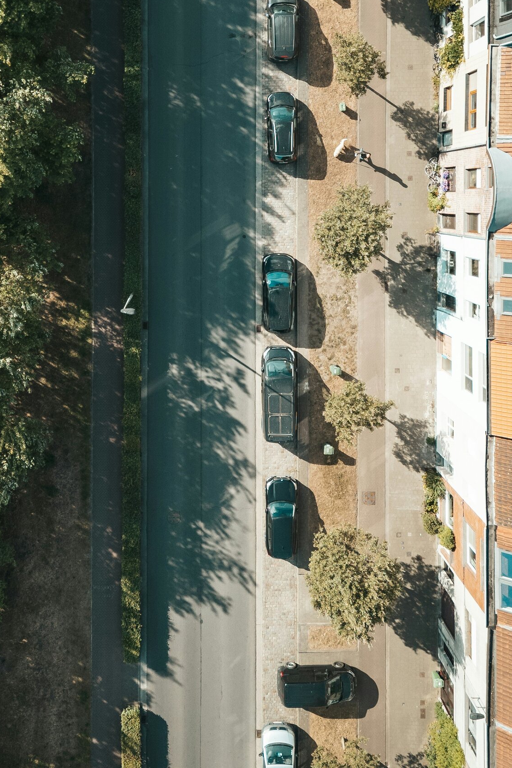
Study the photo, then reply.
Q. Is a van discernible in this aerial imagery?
Yes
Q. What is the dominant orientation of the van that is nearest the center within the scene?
up and down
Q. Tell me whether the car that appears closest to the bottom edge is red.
No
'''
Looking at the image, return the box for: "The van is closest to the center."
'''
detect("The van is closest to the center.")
[259,345,300,441]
